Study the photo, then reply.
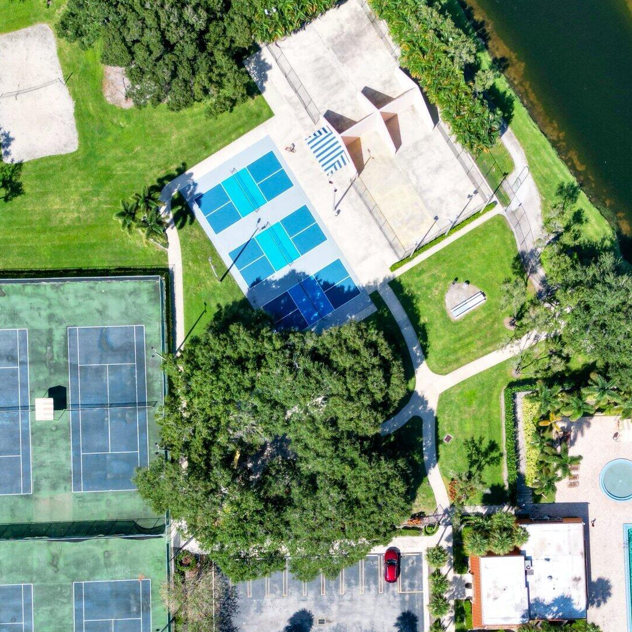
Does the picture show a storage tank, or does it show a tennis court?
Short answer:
tennis court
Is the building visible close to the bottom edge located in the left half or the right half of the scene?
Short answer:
right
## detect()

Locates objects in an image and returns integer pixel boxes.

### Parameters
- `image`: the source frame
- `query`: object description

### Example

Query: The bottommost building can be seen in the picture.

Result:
[470,518,587,632]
